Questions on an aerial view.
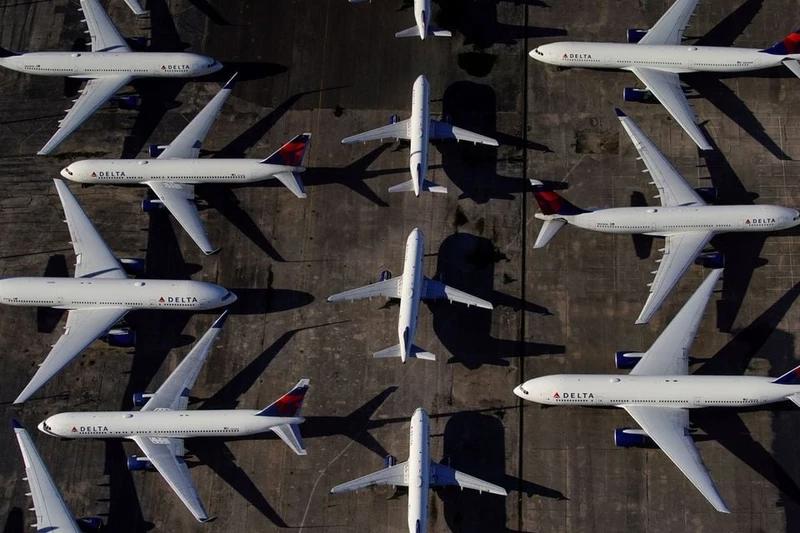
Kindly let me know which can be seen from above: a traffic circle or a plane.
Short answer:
plane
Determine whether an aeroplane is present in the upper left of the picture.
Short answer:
Yes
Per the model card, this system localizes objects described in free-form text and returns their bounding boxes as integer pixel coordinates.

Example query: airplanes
[527,0,800,148]
[38,310,310,521]
[59,73,312,254]
[0,0,223,155]
[331,409,506,533]
[513,268,800,515]
[395,0,452,41]
[126,0,152,13]
[327,229,491,363]
[10,417,104,533]
[0,178,237,402]
[529,107,800,323]
[341,76,498,196]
